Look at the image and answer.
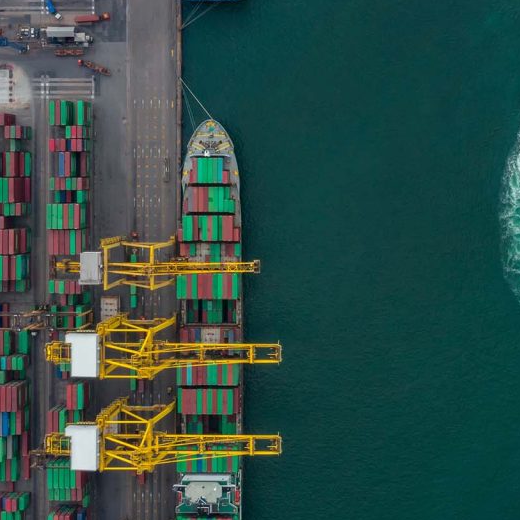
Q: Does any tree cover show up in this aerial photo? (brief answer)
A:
No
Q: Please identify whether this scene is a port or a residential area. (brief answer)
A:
port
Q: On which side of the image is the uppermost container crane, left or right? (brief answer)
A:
left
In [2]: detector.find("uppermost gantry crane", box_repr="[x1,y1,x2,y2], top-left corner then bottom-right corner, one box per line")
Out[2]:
[49,234,263,291]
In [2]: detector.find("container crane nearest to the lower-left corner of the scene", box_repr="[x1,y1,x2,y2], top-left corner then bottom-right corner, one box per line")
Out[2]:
[28,437,72,468]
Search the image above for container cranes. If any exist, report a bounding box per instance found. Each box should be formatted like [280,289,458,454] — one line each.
[45,310,282,381]
[46,393,282,473]
[29,306,94,330]
[28,437,72,468]
[49,234,263,291]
